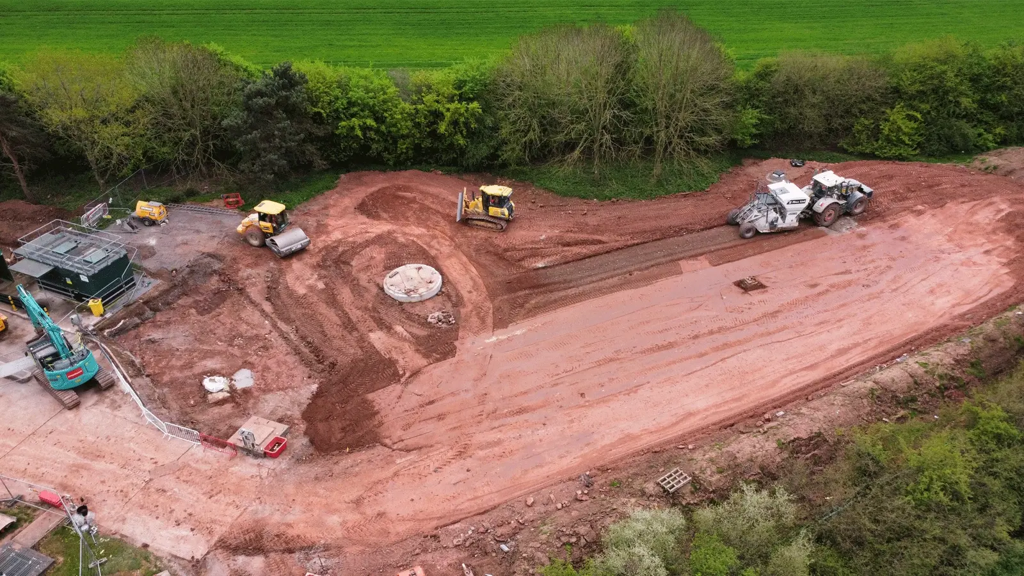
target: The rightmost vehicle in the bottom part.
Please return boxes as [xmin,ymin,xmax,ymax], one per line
[23,281,118,413]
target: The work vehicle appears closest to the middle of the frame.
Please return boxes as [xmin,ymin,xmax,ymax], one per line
[462,183,516,231]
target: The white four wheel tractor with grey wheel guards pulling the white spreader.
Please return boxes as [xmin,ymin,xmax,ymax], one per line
[799,177,874,230]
